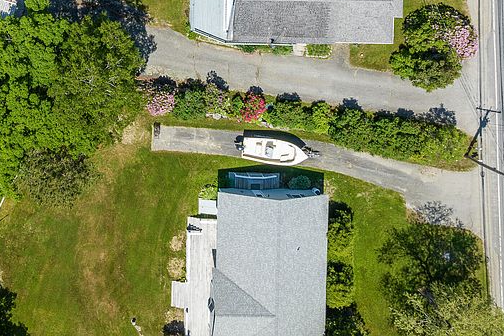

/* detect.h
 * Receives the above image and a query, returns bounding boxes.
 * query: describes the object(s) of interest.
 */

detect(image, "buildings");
[186,0,404,44]
[170,173,330,336]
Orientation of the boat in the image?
from side to side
